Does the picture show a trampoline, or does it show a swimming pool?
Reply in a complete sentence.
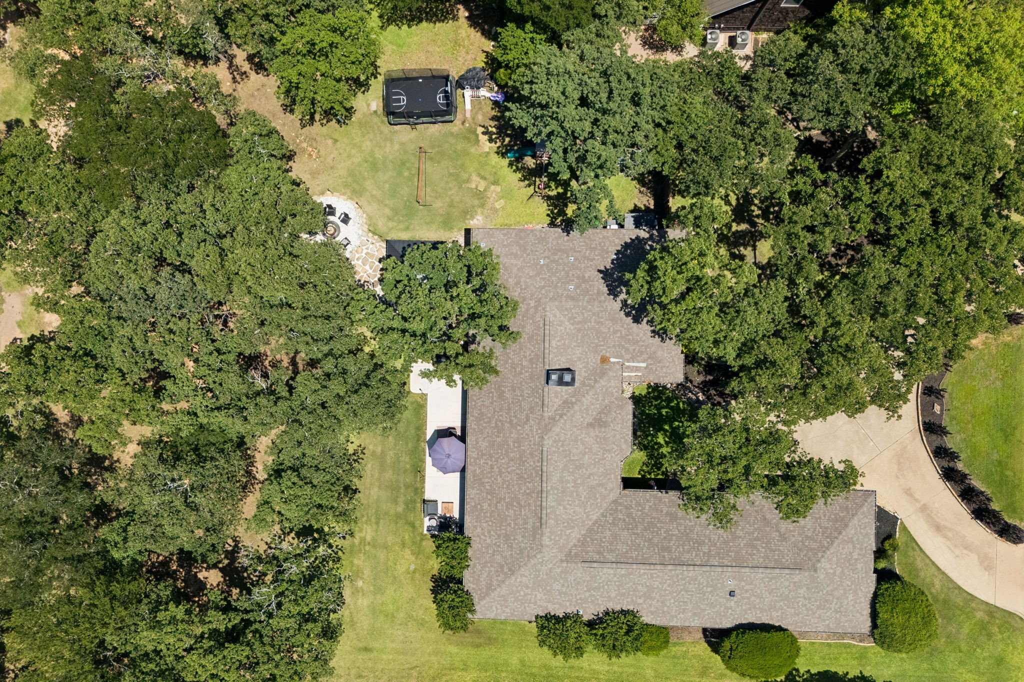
Looking from above, you can make out a trampoline.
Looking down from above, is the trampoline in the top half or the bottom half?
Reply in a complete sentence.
Seen from above, the trampoline lies in the top half of the view.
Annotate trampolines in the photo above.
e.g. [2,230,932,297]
[384,68,458,137]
